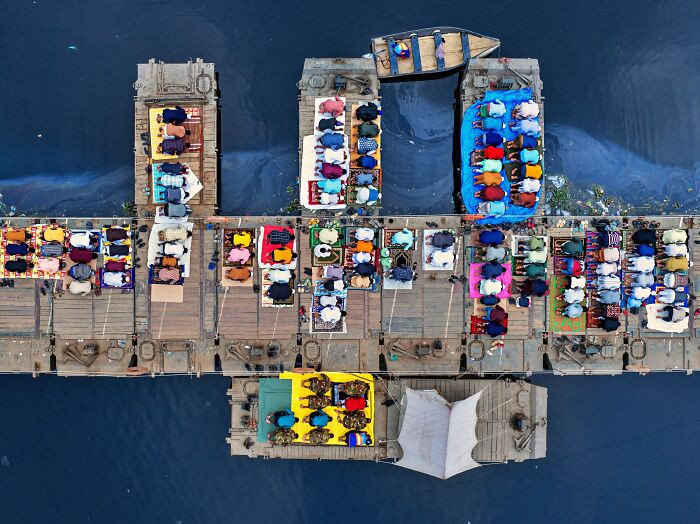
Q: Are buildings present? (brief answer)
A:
No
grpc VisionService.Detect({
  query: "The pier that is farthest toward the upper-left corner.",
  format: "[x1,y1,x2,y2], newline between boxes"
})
[130,57,222,217]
